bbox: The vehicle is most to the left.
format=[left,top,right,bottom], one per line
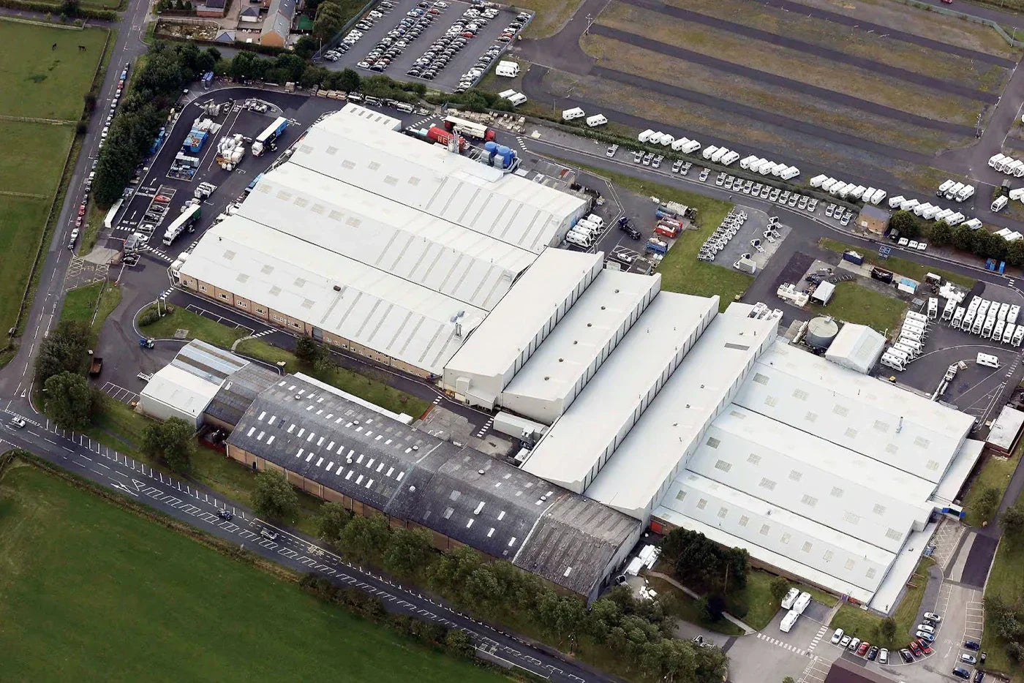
[10,415,27,428]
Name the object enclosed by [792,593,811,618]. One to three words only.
camper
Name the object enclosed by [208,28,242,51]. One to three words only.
house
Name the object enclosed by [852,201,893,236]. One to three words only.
building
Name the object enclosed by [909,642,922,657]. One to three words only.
vehicle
